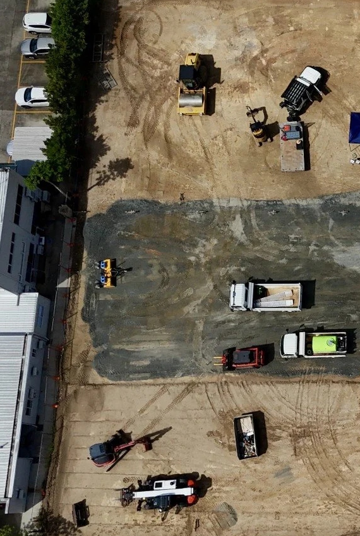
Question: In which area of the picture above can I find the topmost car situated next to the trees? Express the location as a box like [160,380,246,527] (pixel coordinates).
[25,13,65,38]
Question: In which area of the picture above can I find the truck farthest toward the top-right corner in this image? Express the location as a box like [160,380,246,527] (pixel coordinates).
[278,59,326,114]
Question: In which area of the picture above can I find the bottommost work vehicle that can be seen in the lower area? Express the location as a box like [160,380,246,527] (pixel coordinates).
[112,476,194,514]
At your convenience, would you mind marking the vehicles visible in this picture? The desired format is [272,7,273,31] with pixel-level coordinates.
[176,54,207,117]
[278,59,326,114]
[24,34,65,62]
[92,427,158,474]
[216,346,265,372]
[25,13,65,38]
[278,328,351,361]
[246,105,274,141]
[96,258,122,286]
[18,84,64,110]
[112,476,194,514]
[226,279,307,314]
